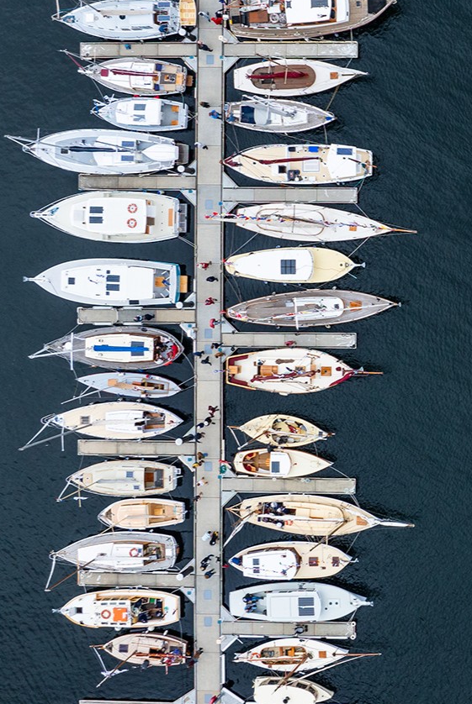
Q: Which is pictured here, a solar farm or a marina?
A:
marina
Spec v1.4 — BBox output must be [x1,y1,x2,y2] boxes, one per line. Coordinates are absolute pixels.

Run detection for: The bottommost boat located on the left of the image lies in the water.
[89,632,192,688]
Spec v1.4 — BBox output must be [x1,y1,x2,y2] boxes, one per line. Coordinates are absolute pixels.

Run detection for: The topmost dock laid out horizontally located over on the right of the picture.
[224,28,358,72]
